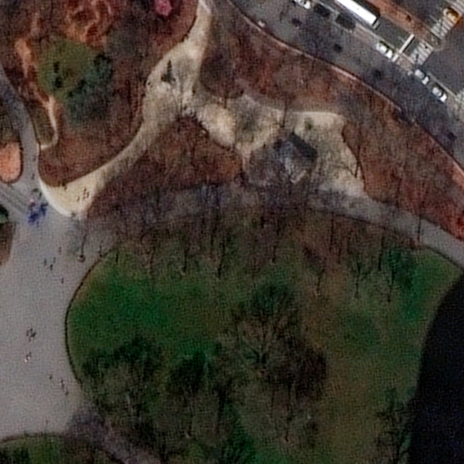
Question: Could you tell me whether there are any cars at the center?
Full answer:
No, I can find no car at the center.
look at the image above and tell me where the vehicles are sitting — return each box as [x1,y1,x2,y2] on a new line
[338,0,384,25]
[441,9,460,26]
[429,85,449,103]
[413,68,431,86]
[375,41,395,60]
